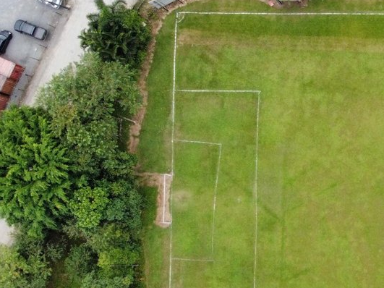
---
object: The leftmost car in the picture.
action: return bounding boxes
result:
[0,27,15,58]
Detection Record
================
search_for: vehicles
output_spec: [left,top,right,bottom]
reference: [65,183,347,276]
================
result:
[14,19,50,41]
[36,0,66,11]
[0,27,15,58]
